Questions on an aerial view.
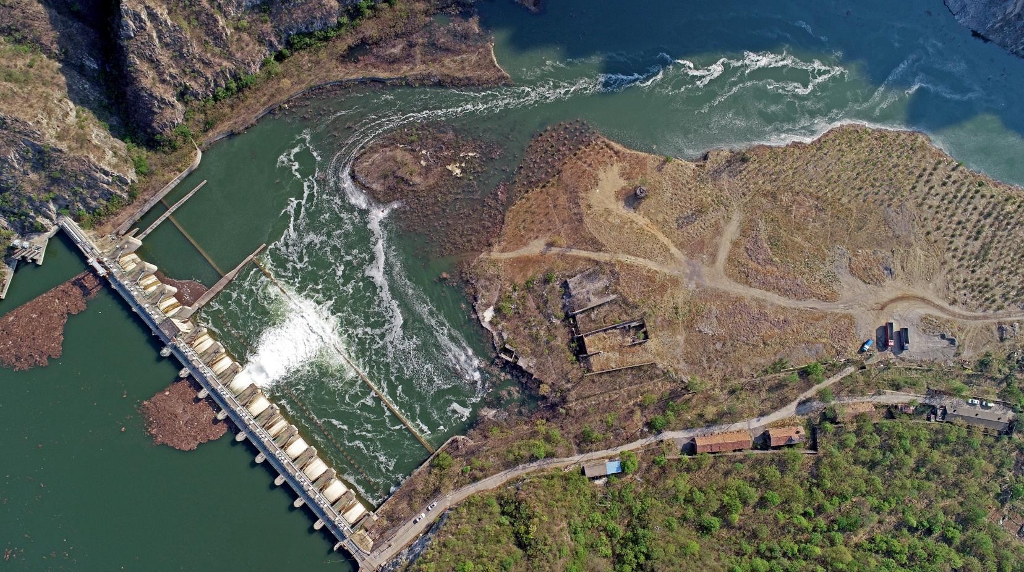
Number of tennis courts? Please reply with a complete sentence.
There are no tennis courts in the image.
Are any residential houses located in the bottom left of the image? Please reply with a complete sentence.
No, no residential house appears in the bottom left of the image.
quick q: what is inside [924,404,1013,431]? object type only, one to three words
house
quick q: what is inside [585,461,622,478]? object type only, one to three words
shed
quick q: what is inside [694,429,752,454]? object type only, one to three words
house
